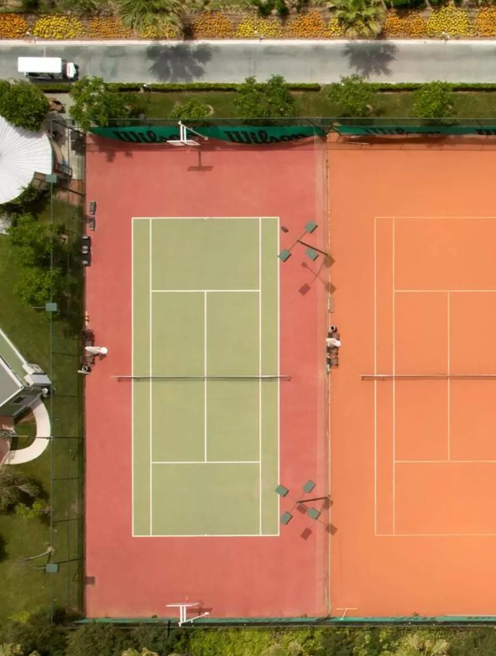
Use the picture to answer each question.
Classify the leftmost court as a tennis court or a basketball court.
tennis court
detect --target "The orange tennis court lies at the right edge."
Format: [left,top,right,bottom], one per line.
[329,135,496,615]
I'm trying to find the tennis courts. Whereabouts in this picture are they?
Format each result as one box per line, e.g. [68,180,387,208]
[85,135,329,616]
[329,135,496,615]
